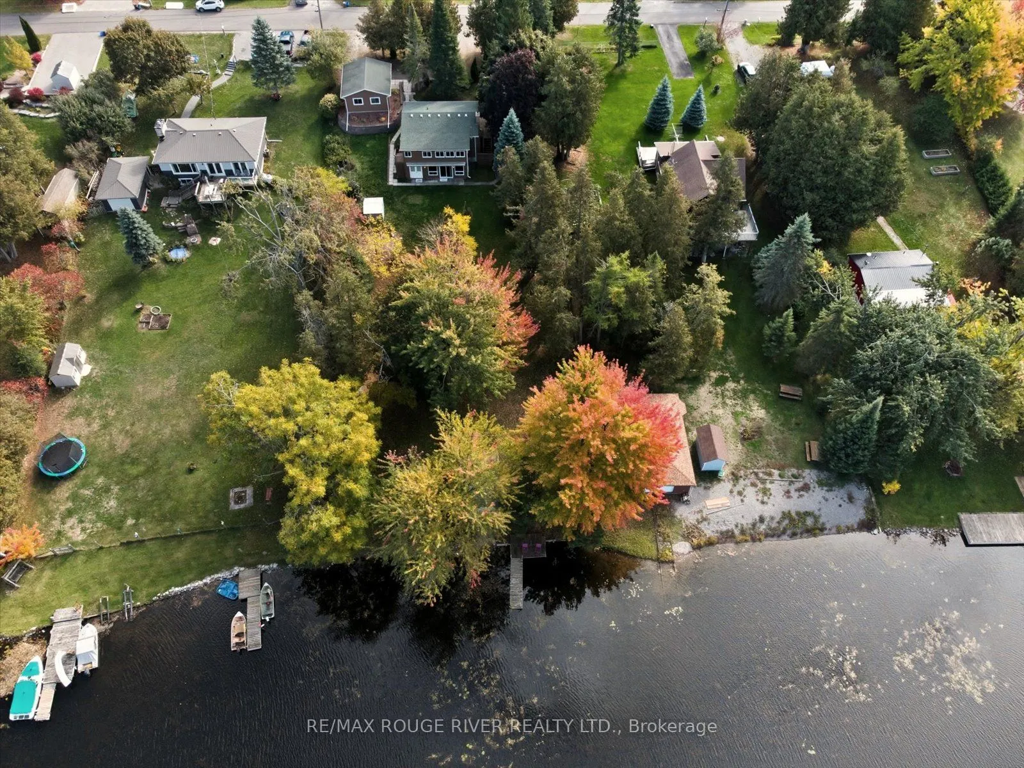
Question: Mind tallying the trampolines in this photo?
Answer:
1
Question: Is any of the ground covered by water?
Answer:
Yes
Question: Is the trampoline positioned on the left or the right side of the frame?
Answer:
left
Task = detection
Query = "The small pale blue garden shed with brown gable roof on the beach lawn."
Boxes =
[688,422,728,473]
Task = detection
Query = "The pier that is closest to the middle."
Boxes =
[493,539,546,610]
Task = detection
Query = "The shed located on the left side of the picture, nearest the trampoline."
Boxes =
[49,337,89,389]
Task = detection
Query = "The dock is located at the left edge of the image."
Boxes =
[35,606,85,722]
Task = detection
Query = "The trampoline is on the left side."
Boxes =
[33,425,100,481]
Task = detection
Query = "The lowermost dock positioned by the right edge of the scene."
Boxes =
[958,512,1024,548]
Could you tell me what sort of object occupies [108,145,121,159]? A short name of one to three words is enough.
vehicle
